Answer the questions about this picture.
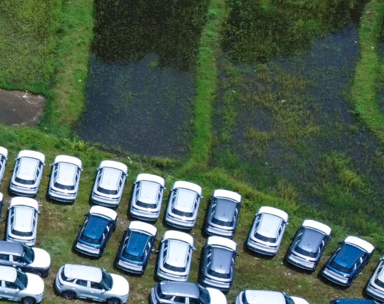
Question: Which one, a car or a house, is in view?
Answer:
car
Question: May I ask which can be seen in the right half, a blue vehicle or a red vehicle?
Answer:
blue vehicle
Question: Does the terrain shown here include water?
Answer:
Yes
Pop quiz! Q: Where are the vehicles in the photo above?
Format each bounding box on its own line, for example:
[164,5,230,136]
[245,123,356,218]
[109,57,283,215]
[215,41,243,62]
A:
[202,237,240,291]
[368,257,384,303]
[7,199,40,247]
[92,160,129,209]
[323,237,374,288]
[0,266,45,304]
[158,231,194,283]
[238,289,310,304]
[166,181,203,230]
[58,265,129,304]
[0,147,9,190]
[205,188,243,239]
[76,208,119,258]
[11,150,46,197]
[0,241,54,278]
[154,282,227,304]
[49,156,83,203]
[289,221,331,273]
[118,222,156,275]
[248,205,289,257]
[130,174,166,222]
